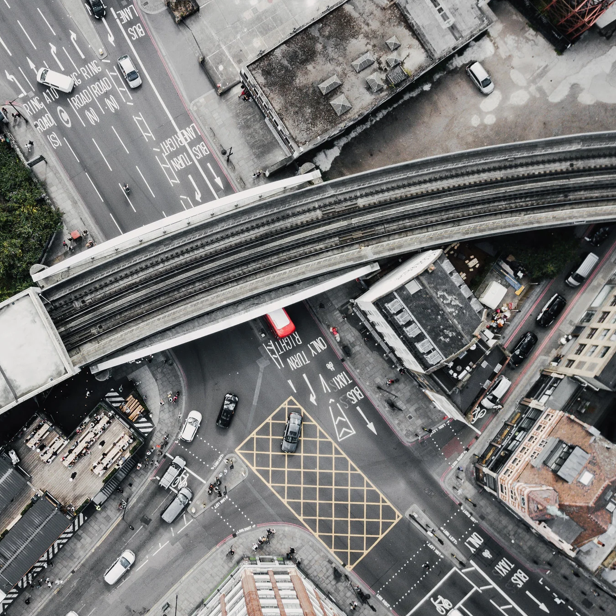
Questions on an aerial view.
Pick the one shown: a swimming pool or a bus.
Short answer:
bus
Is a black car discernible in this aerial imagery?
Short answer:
Yes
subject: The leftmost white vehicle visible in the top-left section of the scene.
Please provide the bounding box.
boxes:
[32,66,79,97]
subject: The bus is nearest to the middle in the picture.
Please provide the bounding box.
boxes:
[260,307,297,344]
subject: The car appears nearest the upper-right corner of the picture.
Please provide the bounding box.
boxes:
[466,59,494,97]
